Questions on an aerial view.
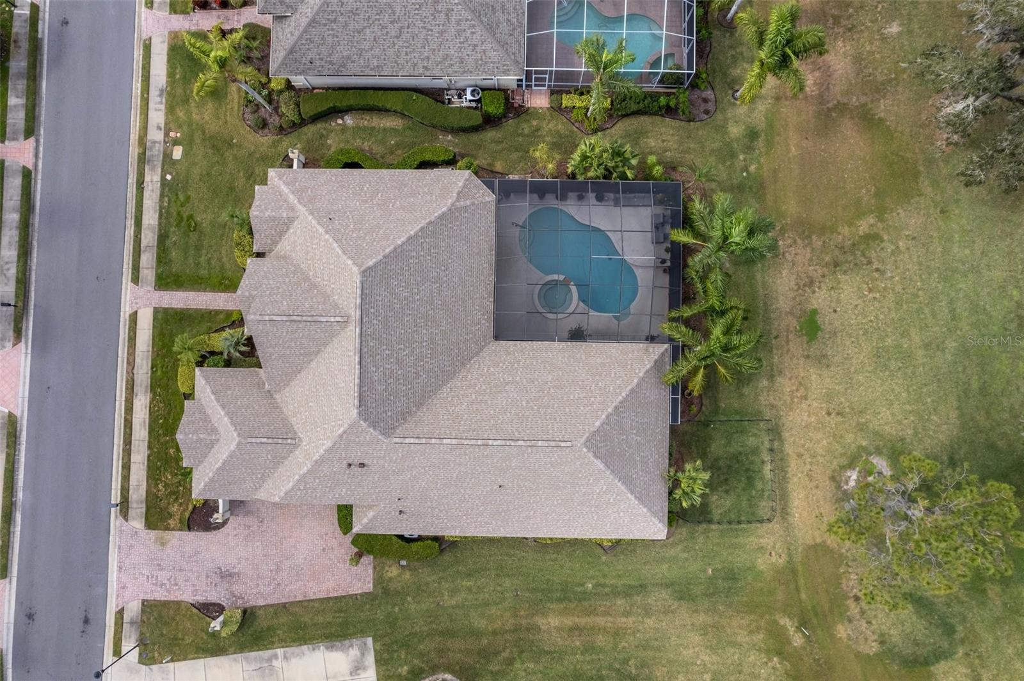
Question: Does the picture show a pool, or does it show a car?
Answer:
pool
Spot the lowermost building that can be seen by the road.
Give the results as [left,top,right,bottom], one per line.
[176,167,670,540]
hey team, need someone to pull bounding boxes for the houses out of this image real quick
[256,0,526,89]
[176,167,670,540]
